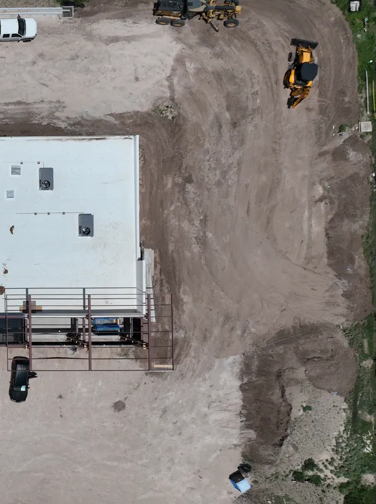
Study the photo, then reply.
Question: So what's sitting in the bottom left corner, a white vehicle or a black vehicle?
black vehicle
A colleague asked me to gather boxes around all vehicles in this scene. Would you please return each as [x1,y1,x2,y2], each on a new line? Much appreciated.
[8,356,37,403]
[0,14,37,43]
[281,36,321,104]
[154,0,243,30]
